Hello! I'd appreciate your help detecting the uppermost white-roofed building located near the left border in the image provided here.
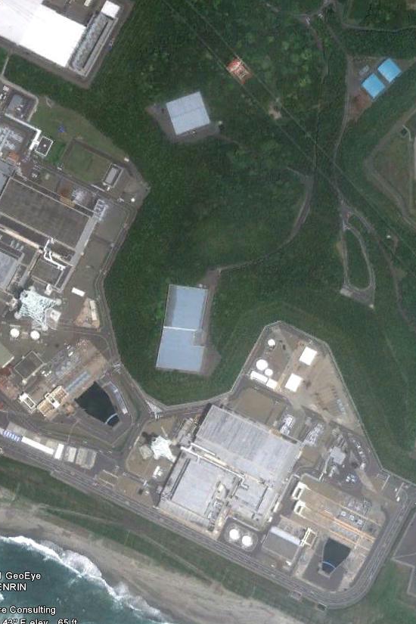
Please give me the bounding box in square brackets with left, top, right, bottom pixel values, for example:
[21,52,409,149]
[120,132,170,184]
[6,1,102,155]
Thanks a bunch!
[0,0,86,69]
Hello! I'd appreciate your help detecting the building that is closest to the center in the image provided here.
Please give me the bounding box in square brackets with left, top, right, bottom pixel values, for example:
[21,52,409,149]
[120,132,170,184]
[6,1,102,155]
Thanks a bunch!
[155,284,208,373]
